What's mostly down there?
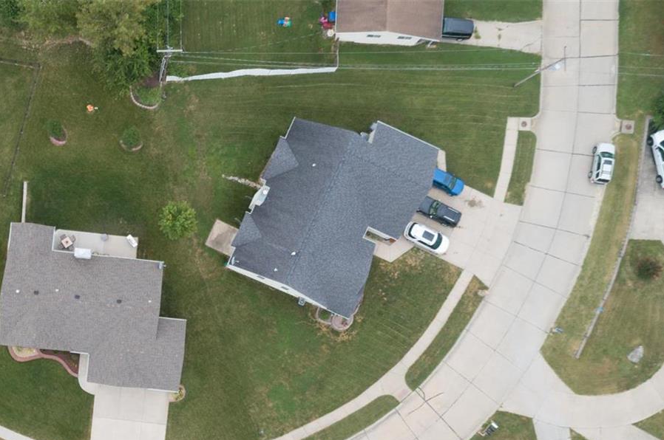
grass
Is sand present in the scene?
No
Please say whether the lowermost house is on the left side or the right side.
left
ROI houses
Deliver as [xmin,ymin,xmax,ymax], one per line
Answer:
[333,0,442,49]
[227,117,440,319]
[0,221,187,393]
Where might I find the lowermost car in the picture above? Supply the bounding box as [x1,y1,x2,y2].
[402,223,449,254]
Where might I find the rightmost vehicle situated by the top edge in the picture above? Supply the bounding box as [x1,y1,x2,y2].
[440,17,476,40]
